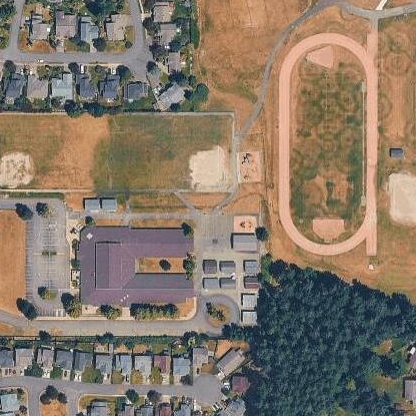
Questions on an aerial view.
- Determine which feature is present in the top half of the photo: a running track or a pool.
running track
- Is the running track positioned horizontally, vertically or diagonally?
vertically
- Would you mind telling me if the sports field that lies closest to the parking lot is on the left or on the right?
left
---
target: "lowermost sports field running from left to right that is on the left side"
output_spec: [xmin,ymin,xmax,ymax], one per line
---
[0,112,236,192]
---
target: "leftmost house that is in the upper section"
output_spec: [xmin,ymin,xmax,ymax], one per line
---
[4,74,25,102]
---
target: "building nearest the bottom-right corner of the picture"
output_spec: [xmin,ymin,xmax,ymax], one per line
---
[397,379,416,406]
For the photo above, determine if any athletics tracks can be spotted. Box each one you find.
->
[279,32,378,255]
